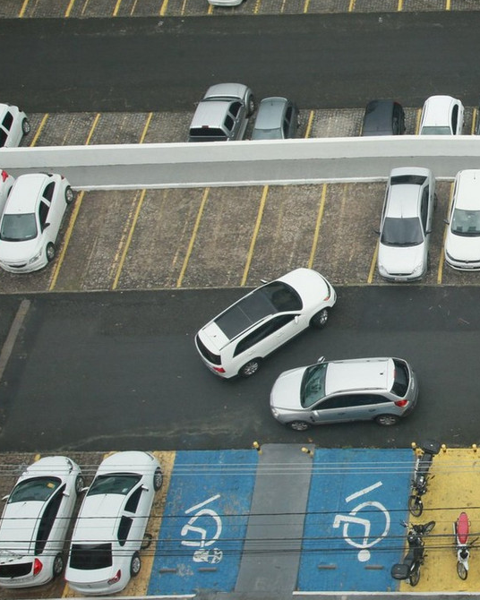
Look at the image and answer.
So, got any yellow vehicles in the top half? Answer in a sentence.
No, there's no yellow vehicle to be seen in the top half.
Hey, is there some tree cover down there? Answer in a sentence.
No, tree cover can't be seen anywhere here.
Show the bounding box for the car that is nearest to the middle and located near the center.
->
[197,276,333,378]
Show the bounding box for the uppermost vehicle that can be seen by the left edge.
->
[0,107,29,147]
